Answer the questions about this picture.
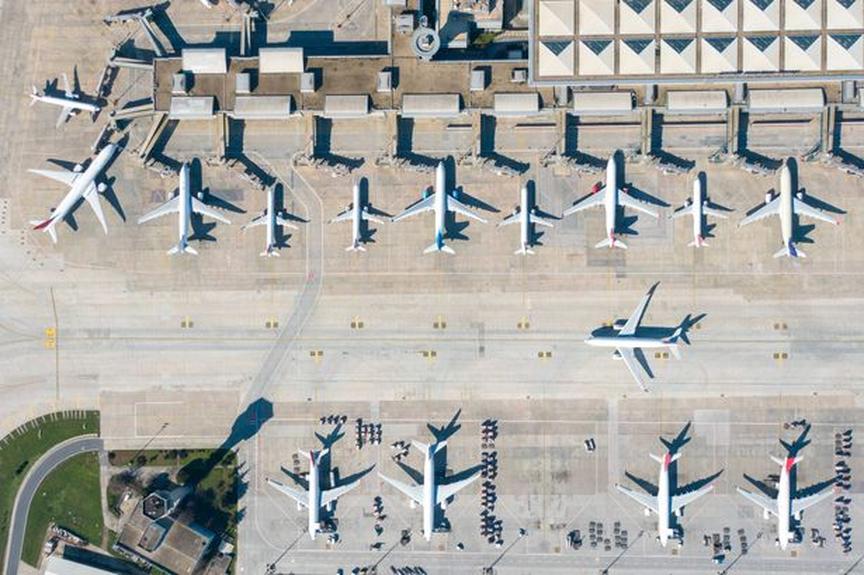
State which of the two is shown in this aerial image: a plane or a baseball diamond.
plane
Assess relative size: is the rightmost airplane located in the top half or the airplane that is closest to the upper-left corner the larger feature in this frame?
the rightmost airplane located in the top half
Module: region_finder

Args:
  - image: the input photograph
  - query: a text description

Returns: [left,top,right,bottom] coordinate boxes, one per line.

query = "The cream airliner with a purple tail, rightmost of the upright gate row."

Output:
[738,163,843,258]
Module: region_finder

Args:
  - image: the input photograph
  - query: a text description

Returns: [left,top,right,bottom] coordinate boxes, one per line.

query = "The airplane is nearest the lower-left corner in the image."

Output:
[265,449,361,539]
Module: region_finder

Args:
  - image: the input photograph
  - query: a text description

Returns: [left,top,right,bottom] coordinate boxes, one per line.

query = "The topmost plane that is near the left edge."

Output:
[27,72,100,127]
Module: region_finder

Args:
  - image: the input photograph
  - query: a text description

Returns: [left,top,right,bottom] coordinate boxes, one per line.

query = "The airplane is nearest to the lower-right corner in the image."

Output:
[740,456,840,549]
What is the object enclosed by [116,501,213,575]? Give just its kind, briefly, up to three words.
building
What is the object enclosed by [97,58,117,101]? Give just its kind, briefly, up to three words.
jet bridge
